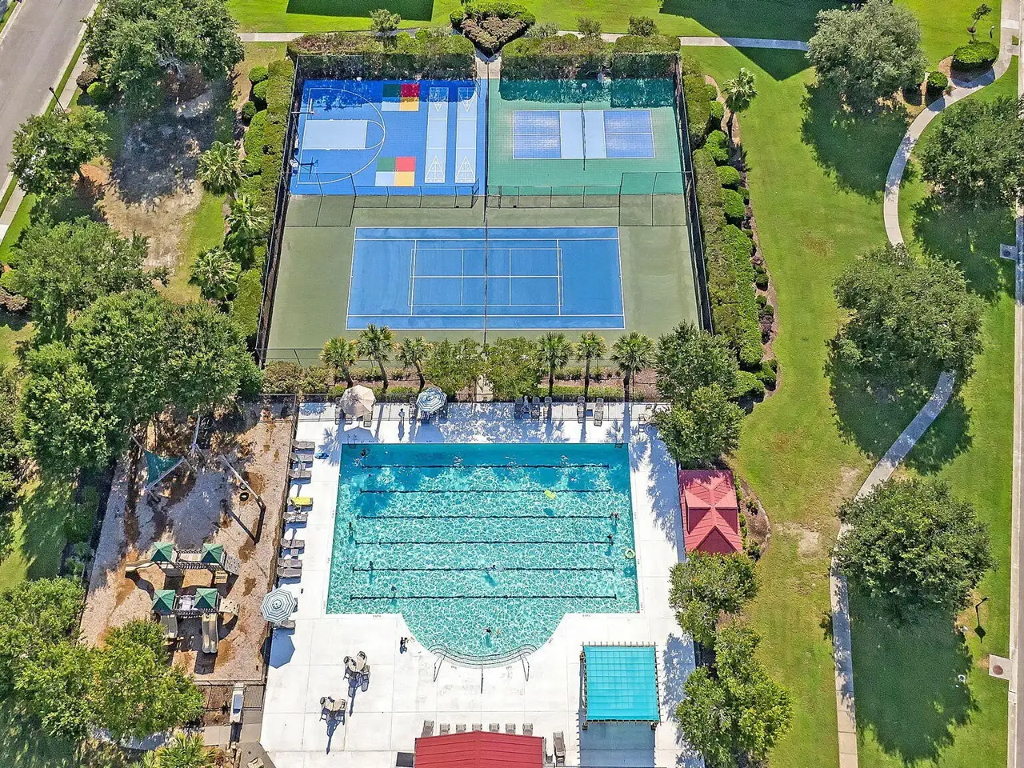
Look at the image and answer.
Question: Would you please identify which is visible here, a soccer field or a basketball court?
basketball court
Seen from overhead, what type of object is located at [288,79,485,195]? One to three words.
basketball court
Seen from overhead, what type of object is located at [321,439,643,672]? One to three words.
swimming pool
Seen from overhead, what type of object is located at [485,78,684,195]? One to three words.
sports court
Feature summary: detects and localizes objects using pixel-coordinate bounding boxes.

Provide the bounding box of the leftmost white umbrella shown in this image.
[259,593,298,631]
